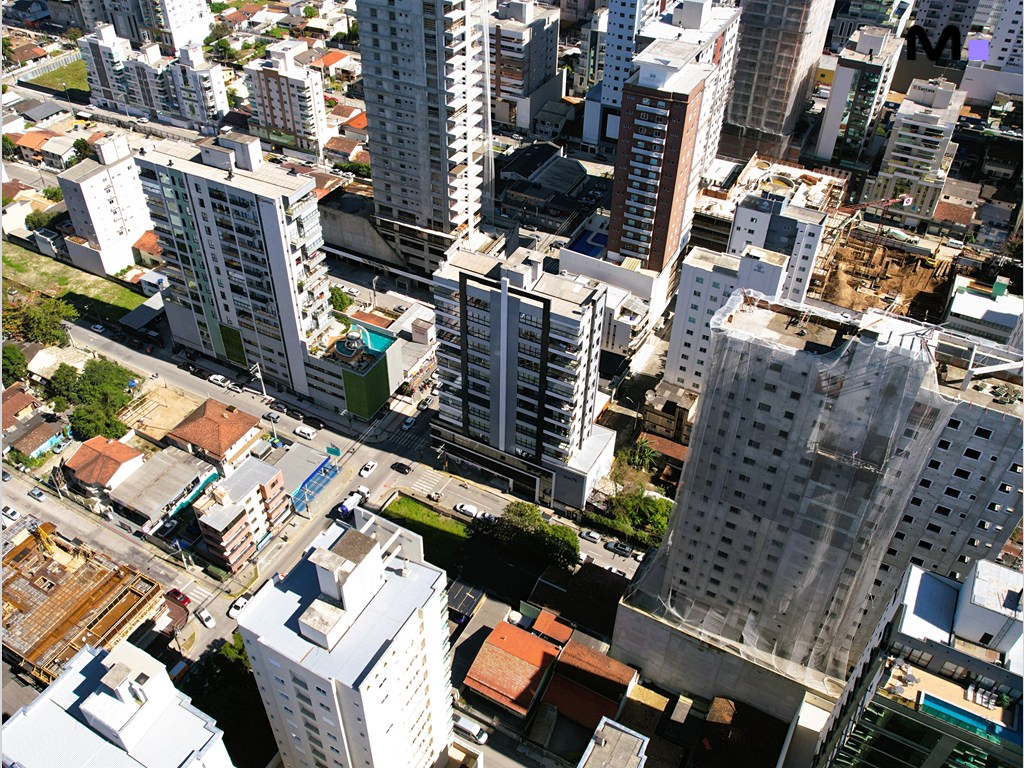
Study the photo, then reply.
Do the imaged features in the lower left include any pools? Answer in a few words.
No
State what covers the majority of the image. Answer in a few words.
buildings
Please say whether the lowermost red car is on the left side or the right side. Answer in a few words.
left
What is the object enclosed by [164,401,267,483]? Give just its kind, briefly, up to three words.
house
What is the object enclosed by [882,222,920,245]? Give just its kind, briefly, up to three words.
truck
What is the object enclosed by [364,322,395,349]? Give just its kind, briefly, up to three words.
swimming pool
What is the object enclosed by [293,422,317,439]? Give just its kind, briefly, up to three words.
car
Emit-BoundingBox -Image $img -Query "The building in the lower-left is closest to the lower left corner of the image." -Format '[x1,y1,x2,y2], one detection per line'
[0,641,245,768]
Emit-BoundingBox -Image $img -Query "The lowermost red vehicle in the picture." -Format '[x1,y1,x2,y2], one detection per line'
[170,587,193,609]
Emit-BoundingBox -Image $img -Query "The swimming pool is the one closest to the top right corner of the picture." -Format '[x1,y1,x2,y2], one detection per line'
[569,238,605,261]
